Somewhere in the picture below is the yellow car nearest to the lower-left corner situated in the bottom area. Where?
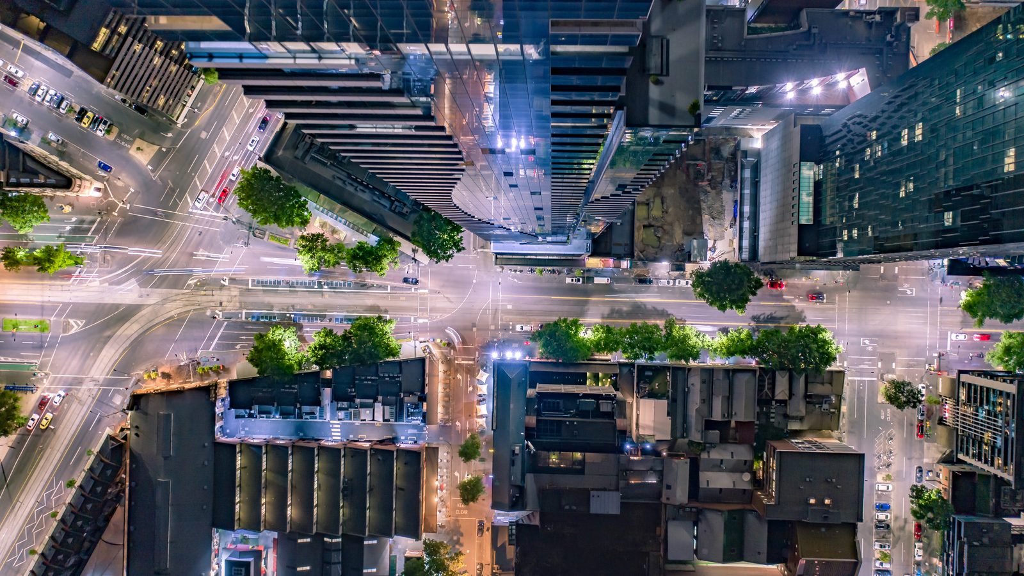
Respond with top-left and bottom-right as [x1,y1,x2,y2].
[40,413,53,429]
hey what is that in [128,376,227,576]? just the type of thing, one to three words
building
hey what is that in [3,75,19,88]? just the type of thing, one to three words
vehicle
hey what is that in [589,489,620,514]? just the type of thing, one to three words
shed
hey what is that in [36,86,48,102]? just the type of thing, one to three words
vehicle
